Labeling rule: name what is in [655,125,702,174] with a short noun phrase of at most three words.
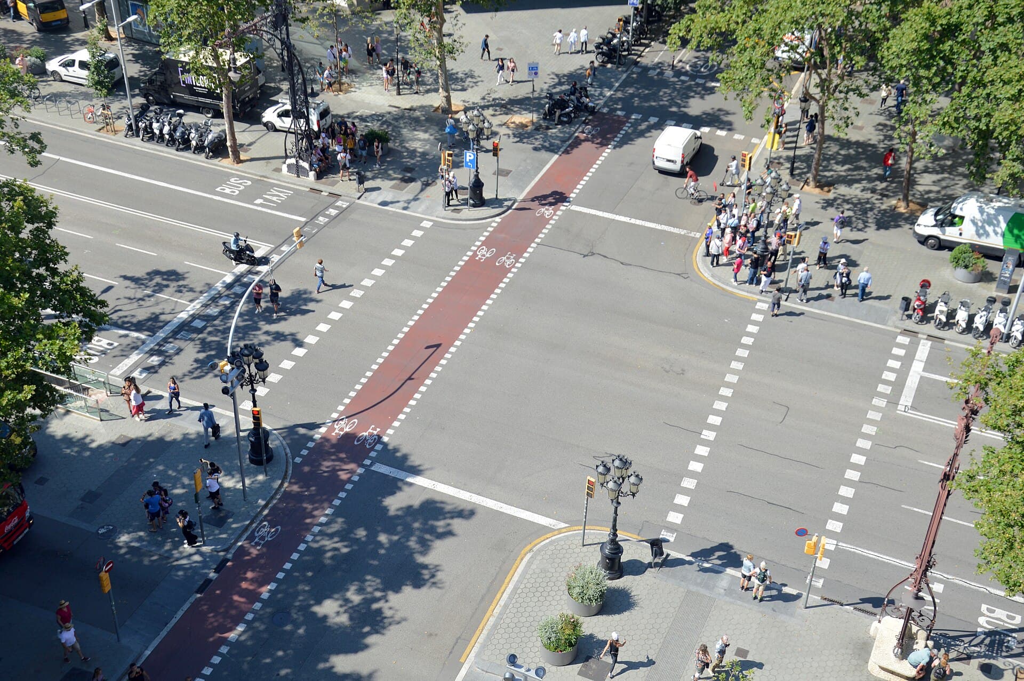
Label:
van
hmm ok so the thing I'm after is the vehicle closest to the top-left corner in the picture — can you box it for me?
[36,0,80,28]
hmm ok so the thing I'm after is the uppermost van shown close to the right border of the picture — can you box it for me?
[914,191,1024,269]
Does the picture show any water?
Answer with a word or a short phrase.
No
